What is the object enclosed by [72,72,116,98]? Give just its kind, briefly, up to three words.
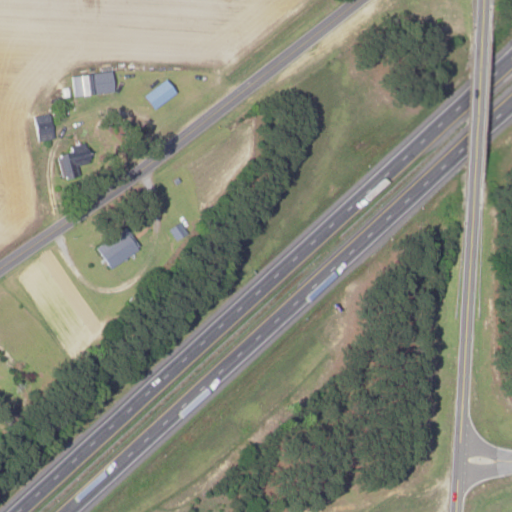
house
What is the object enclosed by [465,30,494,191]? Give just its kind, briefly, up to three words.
bridge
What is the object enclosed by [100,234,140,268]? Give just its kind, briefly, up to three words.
house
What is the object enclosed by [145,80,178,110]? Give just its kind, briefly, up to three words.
barn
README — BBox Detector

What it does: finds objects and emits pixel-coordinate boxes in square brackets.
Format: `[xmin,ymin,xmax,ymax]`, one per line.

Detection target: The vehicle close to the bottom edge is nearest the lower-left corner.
[77,459,116,499]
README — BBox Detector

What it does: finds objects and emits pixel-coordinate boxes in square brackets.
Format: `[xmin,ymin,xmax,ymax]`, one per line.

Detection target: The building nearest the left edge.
[33,114,54,141]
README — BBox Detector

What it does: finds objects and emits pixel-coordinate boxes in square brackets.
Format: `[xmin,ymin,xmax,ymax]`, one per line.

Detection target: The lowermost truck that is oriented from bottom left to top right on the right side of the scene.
[308,261,348,299]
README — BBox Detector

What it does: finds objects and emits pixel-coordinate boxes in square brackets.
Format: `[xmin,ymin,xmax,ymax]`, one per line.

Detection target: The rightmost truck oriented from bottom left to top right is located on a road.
[354,178,391,210]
